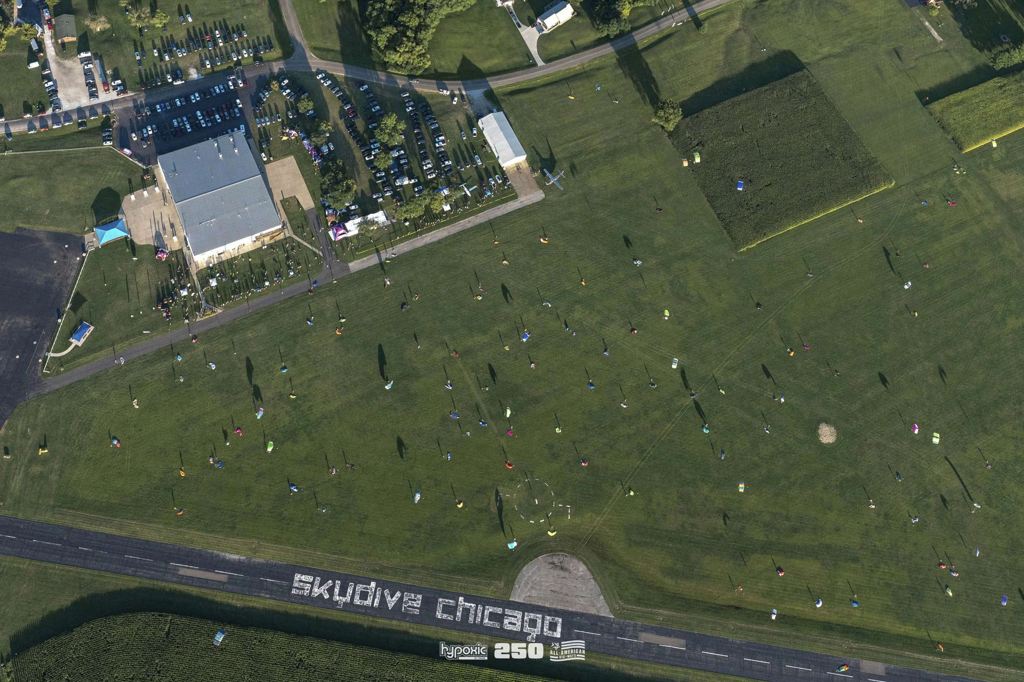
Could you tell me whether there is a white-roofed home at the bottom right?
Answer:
No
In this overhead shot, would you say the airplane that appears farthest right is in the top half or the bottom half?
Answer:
top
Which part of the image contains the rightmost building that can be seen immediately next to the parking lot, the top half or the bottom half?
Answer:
top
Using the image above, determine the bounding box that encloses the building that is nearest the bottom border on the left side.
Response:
[67,319,99,350]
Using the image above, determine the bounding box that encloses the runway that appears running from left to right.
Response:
[0,515,1002,682]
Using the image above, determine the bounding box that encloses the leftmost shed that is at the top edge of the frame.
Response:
[53,13,77,43]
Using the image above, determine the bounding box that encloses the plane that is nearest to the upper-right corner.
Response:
[542,166,567,189]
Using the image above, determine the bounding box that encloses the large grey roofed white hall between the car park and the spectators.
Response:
[151,132,289,263]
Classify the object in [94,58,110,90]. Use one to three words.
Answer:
vehicle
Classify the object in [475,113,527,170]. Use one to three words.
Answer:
hangar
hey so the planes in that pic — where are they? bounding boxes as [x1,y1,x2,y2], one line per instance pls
[542,166,567,189]
[459,180,478,198]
